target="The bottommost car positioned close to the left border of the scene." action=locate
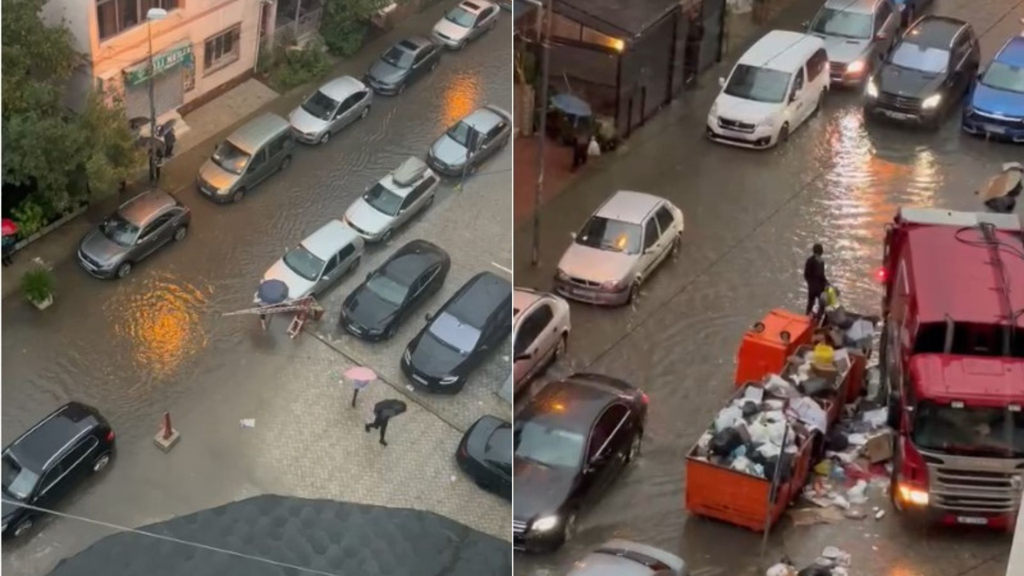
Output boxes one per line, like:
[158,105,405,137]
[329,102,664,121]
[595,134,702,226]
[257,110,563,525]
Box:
[0,408,118,537]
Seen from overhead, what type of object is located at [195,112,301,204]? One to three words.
van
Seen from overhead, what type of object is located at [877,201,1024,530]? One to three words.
truck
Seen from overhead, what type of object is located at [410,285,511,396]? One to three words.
car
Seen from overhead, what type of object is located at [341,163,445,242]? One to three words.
car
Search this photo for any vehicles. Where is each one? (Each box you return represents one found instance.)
[555,186,688,312]
[341,163,445,242]
[708,25,835,152]
[75,190,194,280]
[450,425,514,508]
[514,363,660,559]
[824,0,935,93]
[0,408,118,537]
[260,222,367,308]
[965,38,1024,152]
[289,74,376,148]
[340,246,455,340]
[410,285,511,396]
[428,105,511,177]
[362,33,447,98]
[865,10,992,132]
[195,112,301,204]
[428,0,506,52]
[877,201,1024,530]
[513,281,569,393]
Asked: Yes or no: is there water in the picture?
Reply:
Yes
